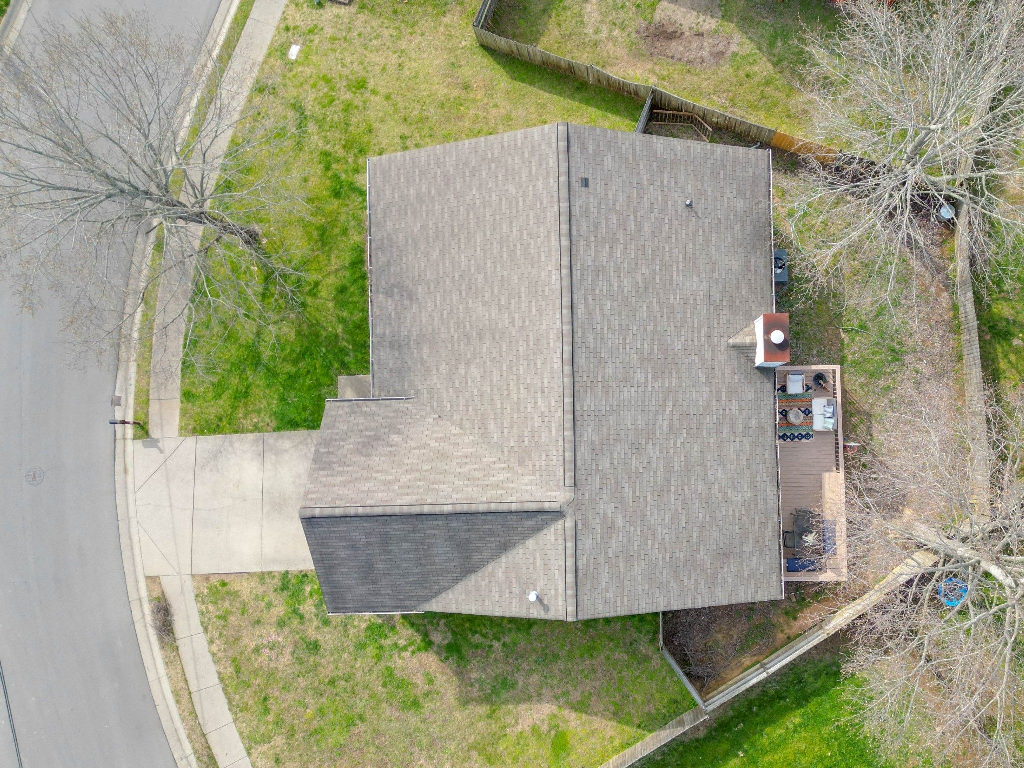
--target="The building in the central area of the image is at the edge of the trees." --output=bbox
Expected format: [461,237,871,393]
[299,119,791,621]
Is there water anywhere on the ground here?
No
